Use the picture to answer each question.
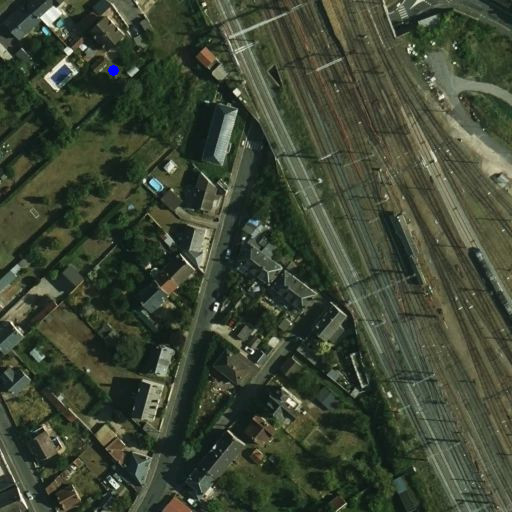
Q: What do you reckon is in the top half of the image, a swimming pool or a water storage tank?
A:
swimming pool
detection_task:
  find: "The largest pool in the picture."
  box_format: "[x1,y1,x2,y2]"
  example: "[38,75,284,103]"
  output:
[45,59,78,92]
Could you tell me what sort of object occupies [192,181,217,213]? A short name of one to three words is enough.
house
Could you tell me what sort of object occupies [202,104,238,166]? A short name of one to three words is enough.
building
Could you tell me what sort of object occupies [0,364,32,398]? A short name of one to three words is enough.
house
